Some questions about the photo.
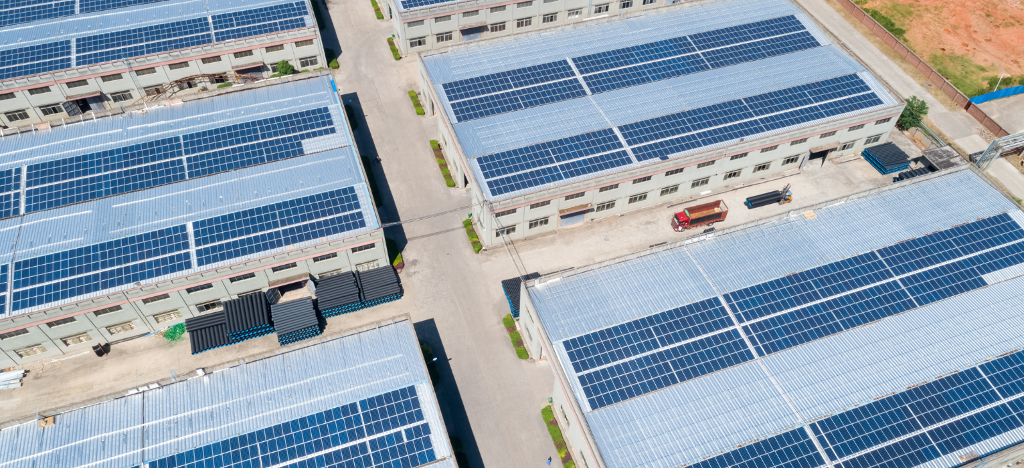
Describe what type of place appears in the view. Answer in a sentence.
The picture captures an industrial area.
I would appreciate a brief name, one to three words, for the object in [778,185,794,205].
work vehicle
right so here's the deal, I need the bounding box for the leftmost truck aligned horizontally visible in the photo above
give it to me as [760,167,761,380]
[670,201,729,230]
